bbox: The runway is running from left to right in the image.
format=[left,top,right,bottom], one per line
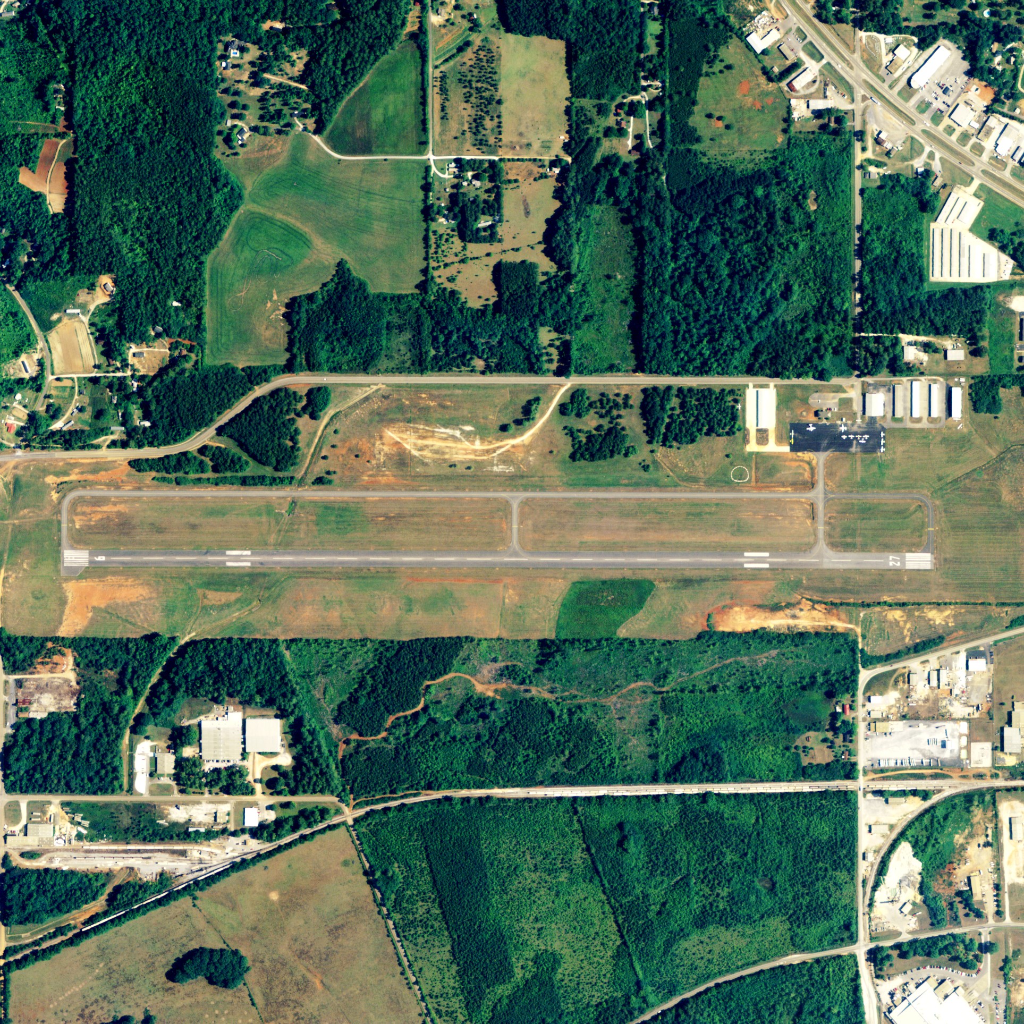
[61,550,934,576]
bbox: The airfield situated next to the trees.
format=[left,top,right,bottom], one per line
[61,416,934,576]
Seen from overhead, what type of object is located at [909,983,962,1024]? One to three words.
building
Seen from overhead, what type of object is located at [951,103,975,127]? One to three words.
building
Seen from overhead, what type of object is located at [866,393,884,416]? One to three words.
hangar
